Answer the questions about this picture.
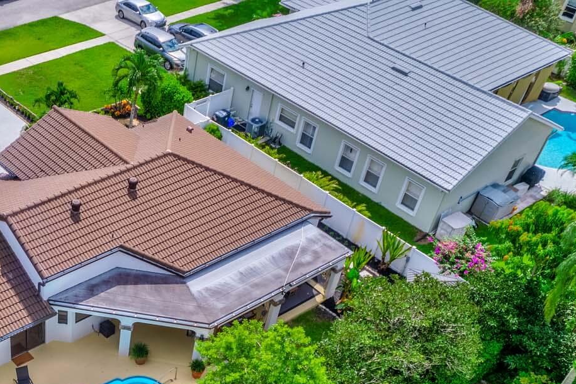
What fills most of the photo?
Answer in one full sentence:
For the most part, this view shows buildings.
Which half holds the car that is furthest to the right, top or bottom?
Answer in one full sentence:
Seen from above, the car that is furthest to the right lies in the top half of the view.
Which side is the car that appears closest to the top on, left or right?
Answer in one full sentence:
It is on the left.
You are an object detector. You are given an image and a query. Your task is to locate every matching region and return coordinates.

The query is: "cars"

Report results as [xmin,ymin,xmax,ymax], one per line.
[165,20,216,44]
[137,28,190,70]
[113,0,165,30]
